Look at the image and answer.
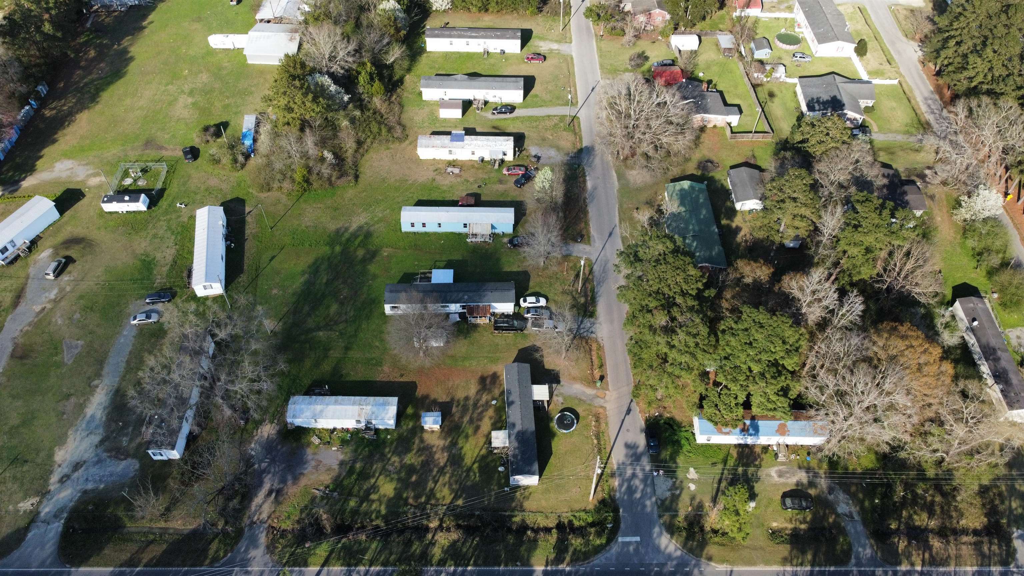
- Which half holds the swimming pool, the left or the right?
right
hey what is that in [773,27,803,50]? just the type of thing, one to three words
swimming pool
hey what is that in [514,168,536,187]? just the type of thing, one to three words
vehicle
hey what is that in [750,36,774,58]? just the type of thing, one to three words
shed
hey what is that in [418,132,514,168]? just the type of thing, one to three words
house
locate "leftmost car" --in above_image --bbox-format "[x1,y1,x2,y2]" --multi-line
[44,259,68,281]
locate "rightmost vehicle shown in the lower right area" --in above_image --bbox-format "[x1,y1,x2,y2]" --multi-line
[779,496,814,512]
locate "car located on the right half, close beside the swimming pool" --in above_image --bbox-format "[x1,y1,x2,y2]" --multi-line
[791,51,811,63]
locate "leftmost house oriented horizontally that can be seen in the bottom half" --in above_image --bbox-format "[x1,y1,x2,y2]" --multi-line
[283,396,397,443]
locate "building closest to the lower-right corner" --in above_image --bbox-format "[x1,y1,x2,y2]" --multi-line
[949,296,1024,420]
